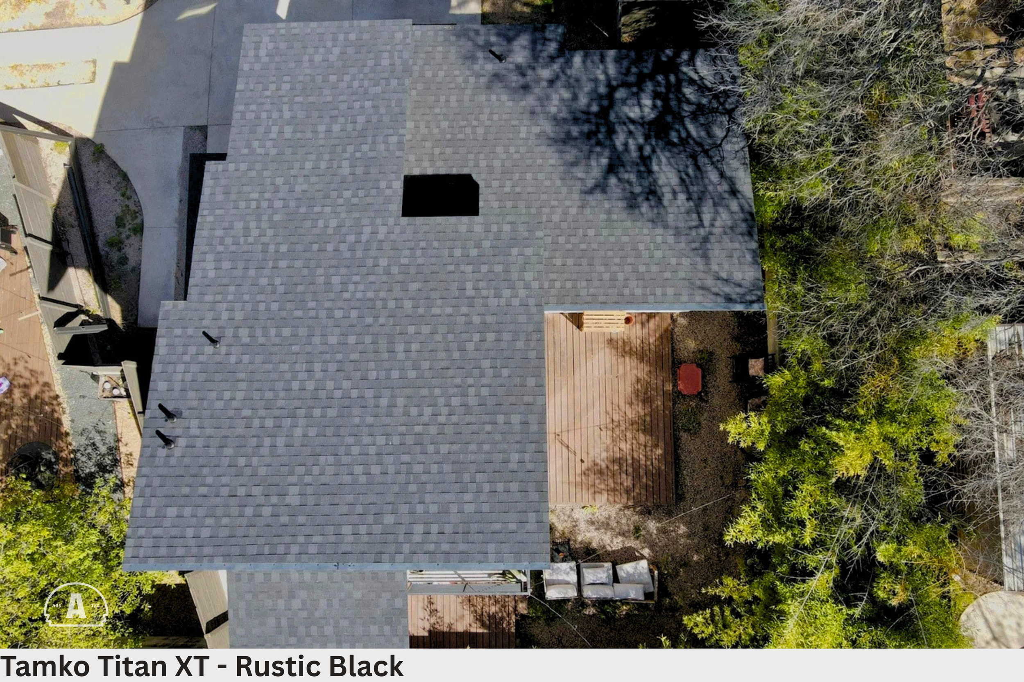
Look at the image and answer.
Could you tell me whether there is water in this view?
No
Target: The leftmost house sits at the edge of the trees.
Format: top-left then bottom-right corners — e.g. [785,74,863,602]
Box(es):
[122,18,766,682]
